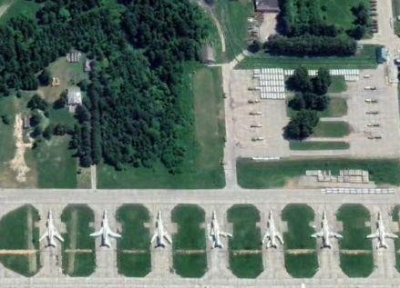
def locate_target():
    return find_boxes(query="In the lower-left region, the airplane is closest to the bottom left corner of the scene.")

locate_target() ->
[40,209,64,247]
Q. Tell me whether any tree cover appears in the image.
Yes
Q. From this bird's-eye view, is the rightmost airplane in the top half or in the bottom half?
bottom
